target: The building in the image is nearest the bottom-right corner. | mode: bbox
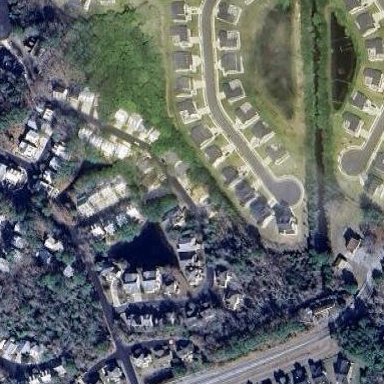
[334,363,351,384]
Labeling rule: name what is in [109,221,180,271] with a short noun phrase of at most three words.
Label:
pond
